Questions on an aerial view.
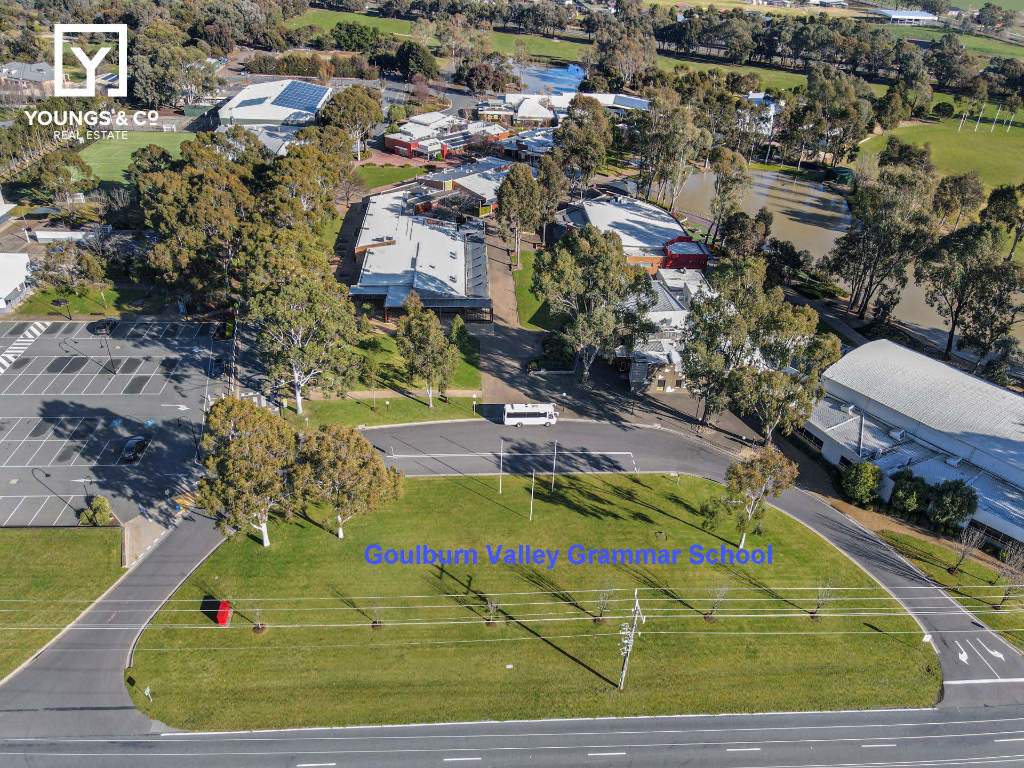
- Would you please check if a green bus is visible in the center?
No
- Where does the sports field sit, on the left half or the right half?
right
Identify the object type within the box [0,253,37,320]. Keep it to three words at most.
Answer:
building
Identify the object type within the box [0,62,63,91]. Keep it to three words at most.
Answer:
house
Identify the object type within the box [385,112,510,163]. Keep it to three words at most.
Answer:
building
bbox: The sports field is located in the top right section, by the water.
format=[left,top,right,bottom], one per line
[859,115,1024,255]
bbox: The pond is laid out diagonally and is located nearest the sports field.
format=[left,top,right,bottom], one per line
[678,169,1024,375]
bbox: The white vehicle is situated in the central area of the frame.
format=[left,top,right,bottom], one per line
[505,399,559,425]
